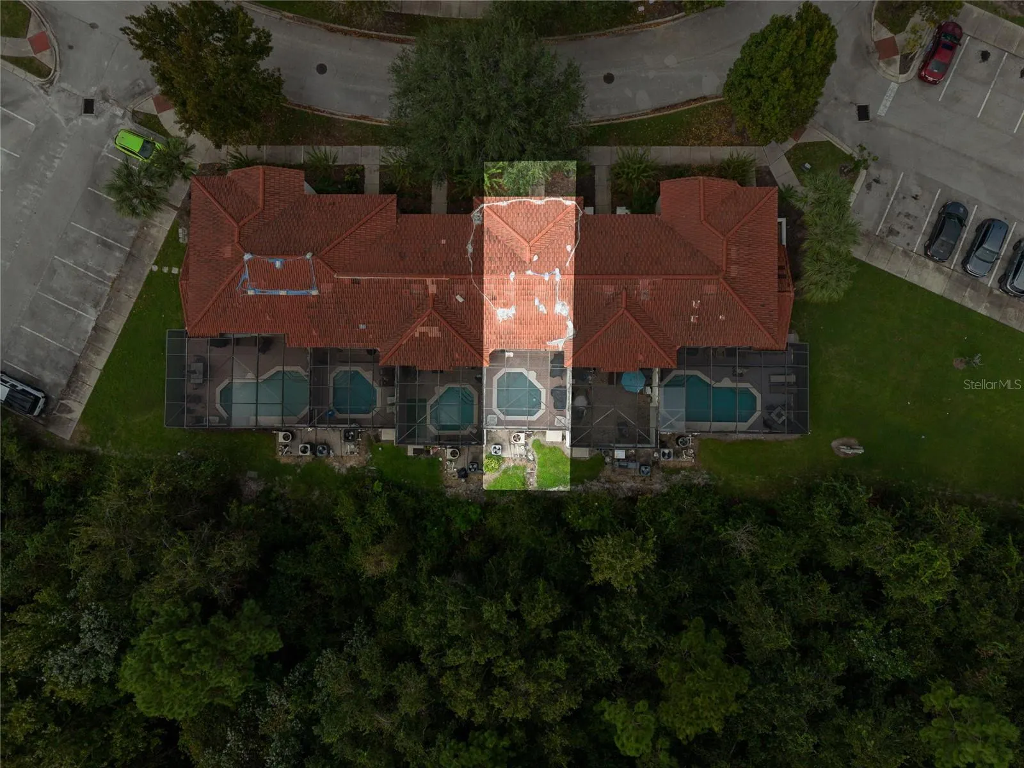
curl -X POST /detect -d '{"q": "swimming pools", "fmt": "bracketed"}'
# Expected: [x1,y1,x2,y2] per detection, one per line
[330,367,380,418]
[661,371,762,427]
[215,366,310,420]
[427,384,479,435]
[493,368,545,421]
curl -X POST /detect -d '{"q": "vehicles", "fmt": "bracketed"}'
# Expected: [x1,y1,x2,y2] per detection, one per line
[112,127,175,173]
[0,364,56,419]
[921,198,969,265]
[960,214,1012,280]
[915,19,965,88]
[998,237,1024,303]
